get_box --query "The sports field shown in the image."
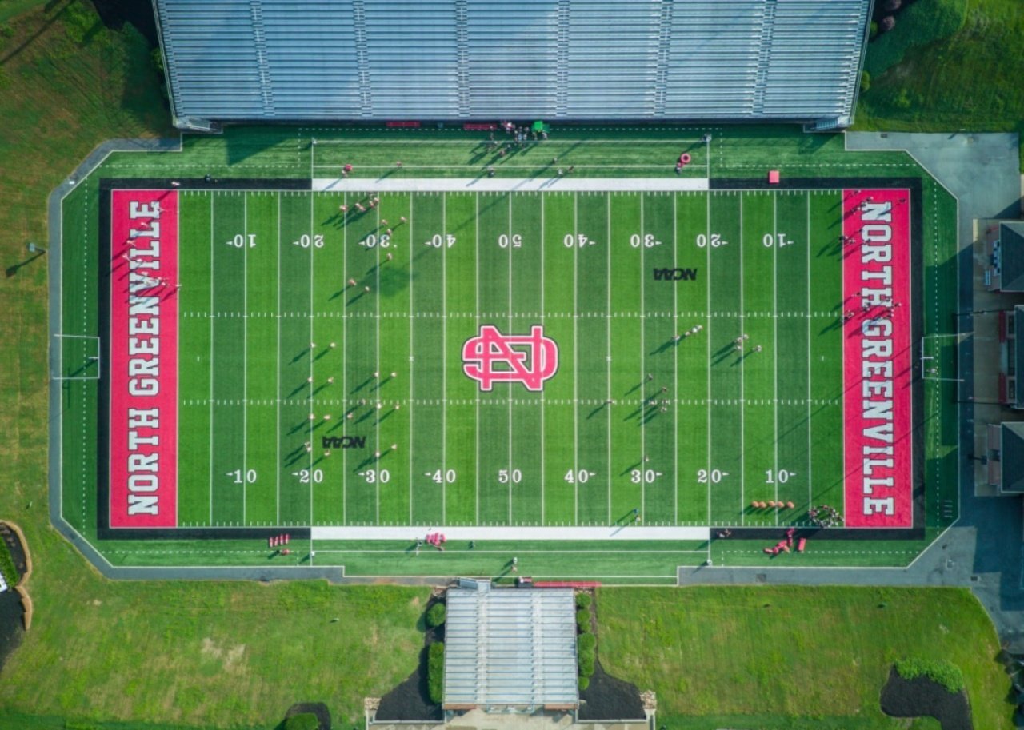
[62,126,958,588]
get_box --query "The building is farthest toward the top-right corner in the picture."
[987,221,1024,290]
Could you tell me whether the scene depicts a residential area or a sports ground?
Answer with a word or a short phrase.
sports ground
